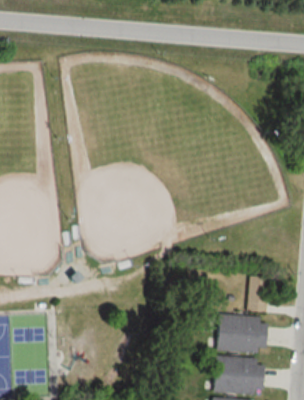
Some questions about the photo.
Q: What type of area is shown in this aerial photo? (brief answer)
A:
sports ground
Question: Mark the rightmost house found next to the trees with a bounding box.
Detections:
[248,276,270,312]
